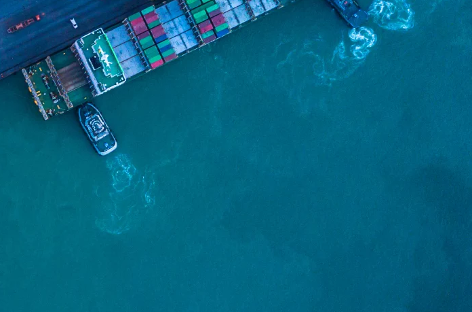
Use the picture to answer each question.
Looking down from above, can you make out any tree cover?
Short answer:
No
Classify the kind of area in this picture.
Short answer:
port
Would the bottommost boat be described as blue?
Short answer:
Yes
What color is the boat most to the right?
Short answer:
blue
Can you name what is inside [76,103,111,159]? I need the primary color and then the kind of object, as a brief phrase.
blue boat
